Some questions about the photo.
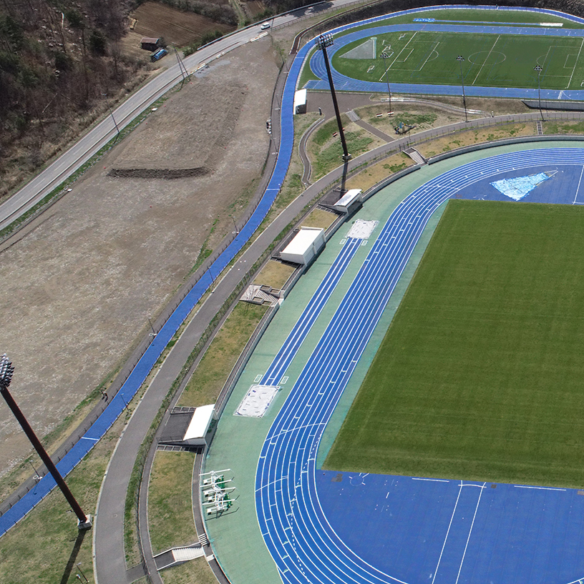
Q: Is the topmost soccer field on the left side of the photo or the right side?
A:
right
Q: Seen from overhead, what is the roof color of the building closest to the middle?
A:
white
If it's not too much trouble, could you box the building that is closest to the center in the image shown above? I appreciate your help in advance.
[272,228,326,265]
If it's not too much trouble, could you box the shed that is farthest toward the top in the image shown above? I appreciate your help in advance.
[134,35,163,50]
